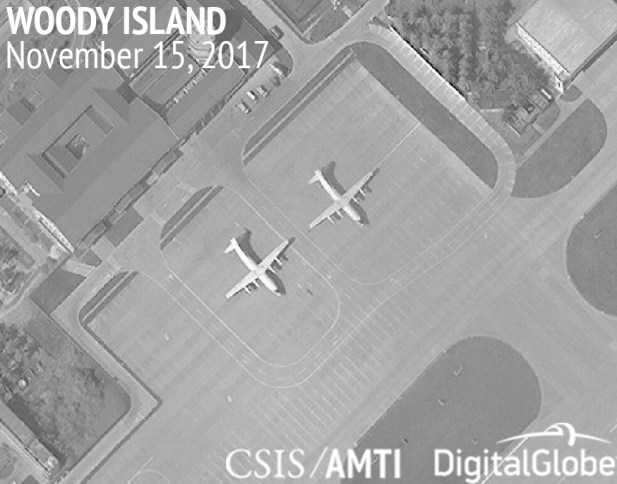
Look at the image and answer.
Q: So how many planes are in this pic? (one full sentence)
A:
In total, there are 2 planes in the scene.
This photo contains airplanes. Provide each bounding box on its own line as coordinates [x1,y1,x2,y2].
[308,166,372,227]
[224,235,289,297]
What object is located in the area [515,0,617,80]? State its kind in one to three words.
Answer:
hangar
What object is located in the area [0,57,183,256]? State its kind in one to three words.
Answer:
building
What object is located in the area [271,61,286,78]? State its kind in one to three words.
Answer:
vehicle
